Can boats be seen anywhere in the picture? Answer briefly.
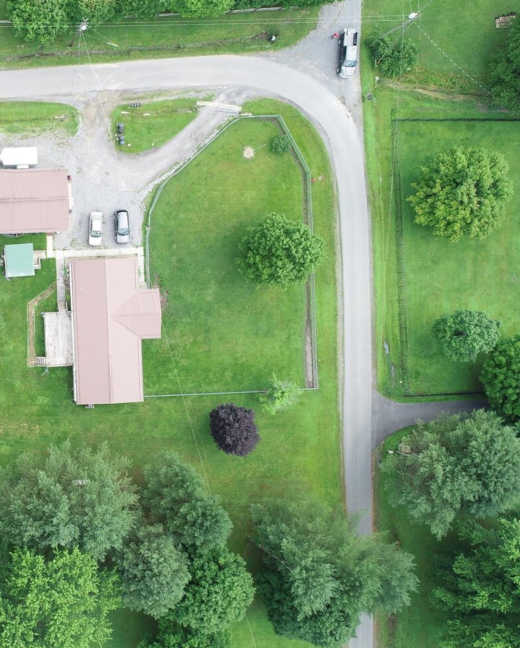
No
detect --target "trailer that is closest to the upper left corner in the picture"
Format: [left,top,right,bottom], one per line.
[0,146,39,169]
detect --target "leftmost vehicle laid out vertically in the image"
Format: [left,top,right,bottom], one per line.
[87,211,103,246]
